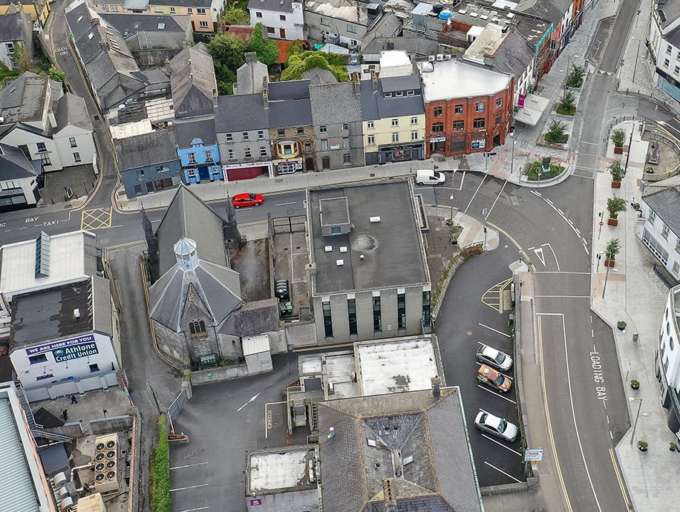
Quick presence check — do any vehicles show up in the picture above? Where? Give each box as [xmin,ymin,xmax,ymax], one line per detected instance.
[415,167,446,185]
[231,190,263,208]
[473,341,515,372]
[472,408,520,441]
[473,359,514,391]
